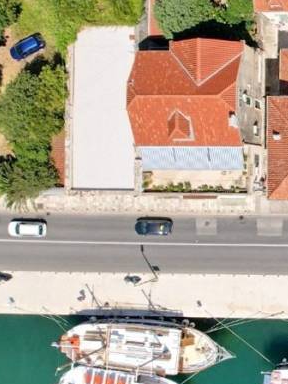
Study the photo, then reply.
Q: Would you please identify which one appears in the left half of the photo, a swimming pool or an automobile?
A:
automobile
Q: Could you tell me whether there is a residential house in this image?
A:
Yes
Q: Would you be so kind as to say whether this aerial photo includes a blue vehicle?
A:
Yes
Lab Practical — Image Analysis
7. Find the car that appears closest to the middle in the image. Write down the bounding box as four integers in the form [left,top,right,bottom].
[137,217,175,236]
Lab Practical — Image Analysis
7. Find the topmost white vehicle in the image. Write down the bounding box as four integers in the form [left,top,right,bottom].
[12,218,51,238]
